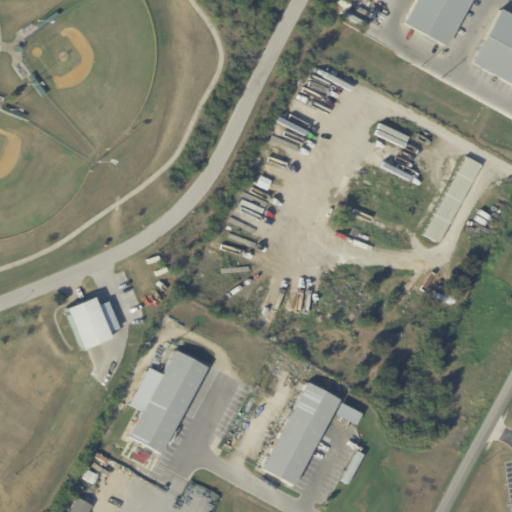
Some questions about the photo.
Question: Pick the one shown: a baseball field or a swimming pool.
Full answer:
The image shows a baseball field.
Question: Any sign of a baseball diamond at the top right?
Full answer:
No, there is no baseball diamond at the top right.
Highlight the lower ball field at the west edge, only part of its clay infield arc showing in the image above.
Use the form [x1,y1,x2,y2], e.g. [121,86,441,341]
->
[0,119,90,238]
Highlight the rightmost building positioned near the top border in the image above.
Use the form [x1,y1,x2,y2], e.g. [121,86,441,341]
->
[470,10,512,86]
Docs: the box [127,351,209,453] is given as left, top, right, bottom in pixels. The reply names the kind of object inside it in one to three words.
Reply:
building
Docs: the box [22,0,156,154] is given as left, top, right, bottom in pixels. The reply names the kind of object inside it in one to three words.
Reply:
baseball field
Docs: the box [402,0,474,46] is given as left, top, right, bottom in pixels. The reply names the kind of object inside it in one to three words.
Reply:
building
